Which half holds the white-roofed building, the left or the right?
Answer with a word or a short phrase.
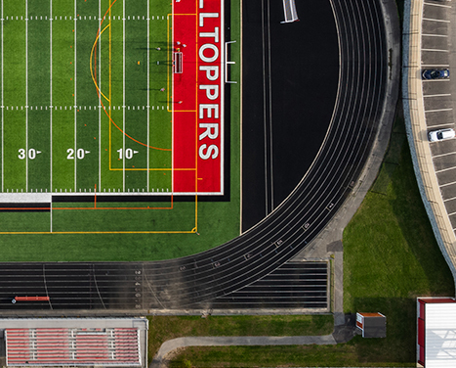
right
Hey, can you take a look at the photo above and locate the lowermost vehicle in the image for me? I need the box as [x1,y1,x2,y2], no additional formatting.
[428,128,456,142]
